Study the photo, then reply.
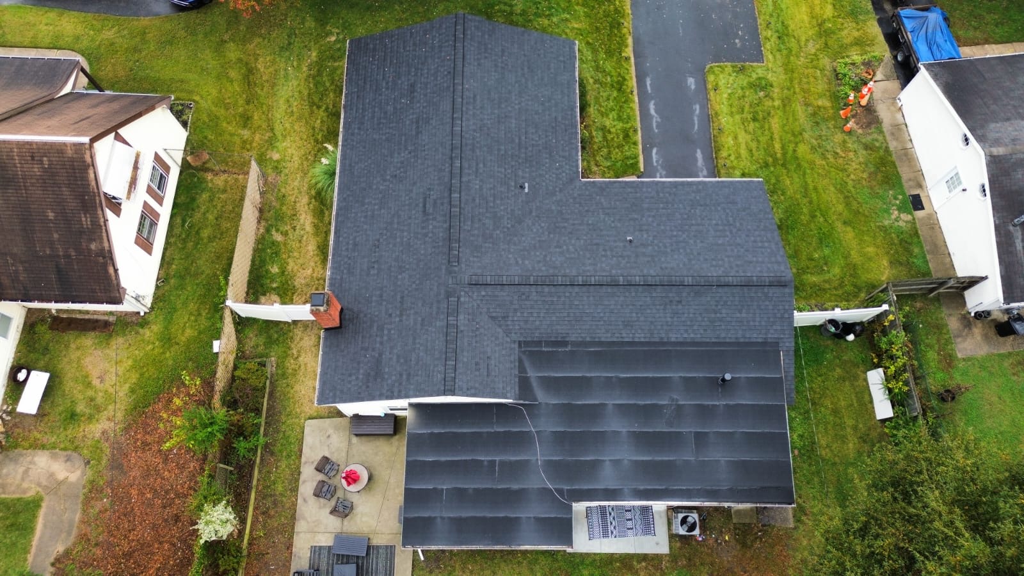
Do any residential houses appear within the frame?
Yes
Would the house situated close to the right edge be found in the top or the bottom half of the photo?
top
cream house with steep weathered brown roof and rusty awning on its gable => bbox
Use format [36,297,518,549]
[0,55,187,396]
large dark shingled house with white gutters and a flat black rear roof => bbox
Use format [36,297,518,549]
[310,13,795,564]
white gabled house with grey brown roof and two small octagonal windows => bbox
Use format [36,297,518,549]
[898,52,1024,323]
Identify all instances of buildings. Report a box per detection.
[898,52,1024,323]
[0,55,187,396]
[310,13,795,564]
